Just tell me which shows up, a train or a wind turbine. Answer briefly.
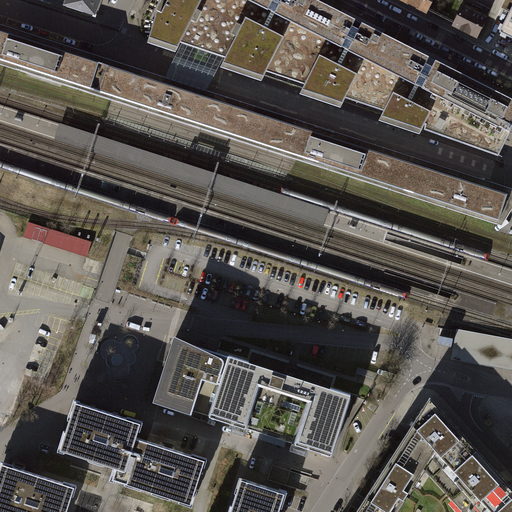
train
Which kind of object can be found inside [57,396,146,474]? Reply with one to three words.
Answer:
building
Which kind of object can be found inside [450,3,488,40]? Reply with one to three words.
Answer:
house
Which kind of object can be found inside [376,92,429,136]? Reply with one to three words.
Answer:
building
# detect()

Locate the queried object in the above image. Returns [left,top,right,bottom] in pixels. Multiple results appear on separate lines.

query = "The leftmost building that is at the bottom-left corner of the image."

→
[0,456,82,512]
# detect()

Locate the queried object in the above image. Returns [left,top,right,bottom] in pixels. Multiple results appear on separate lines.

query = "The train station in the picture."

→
[0,101,512,287]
